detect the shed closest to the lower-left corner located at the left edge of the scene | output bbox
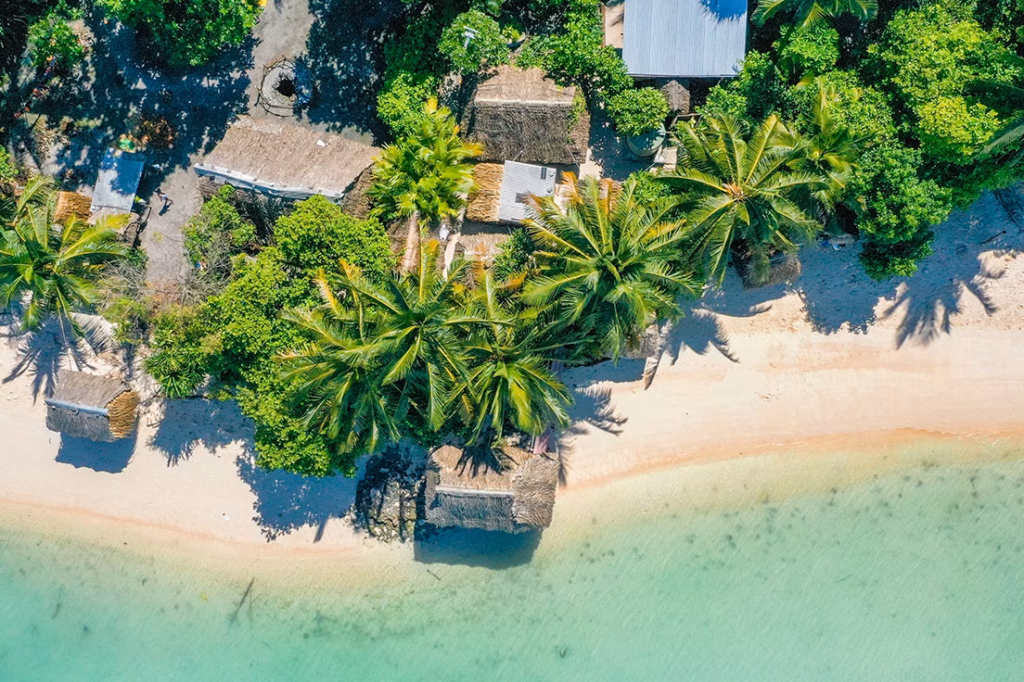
[42,369,145,445]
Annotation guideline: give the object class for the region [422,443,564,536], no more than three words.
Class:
shed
